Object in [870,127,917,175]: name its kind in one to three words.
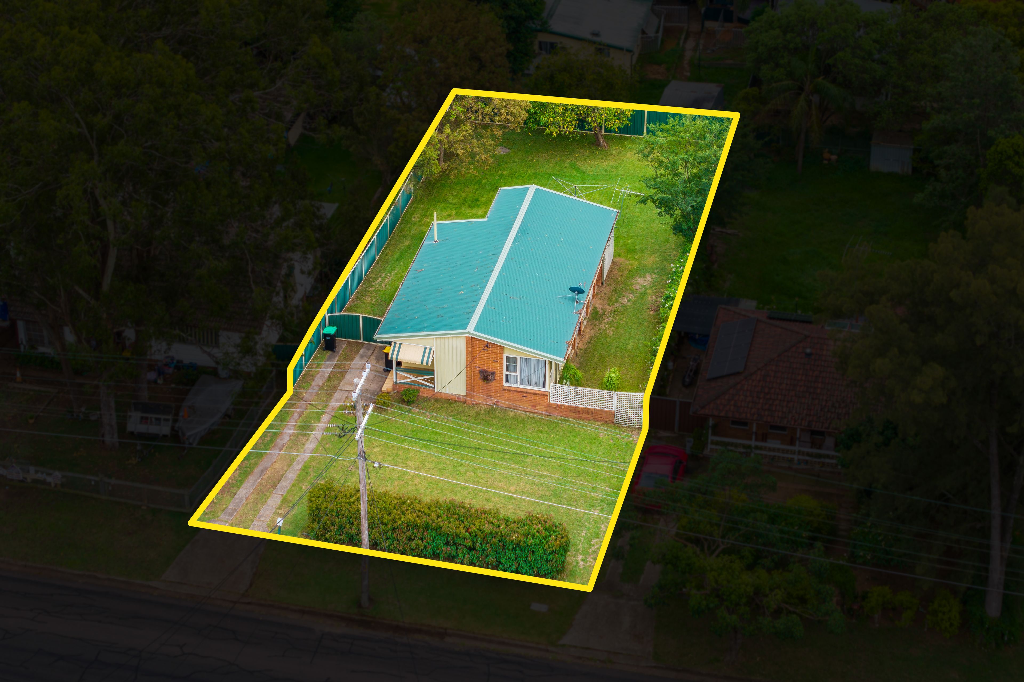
shed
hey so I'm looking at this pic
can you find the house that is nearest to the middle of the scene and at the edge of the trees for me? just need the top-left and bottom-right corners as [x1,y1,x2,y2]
[371,183,622,415]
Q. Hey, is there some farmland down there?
No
